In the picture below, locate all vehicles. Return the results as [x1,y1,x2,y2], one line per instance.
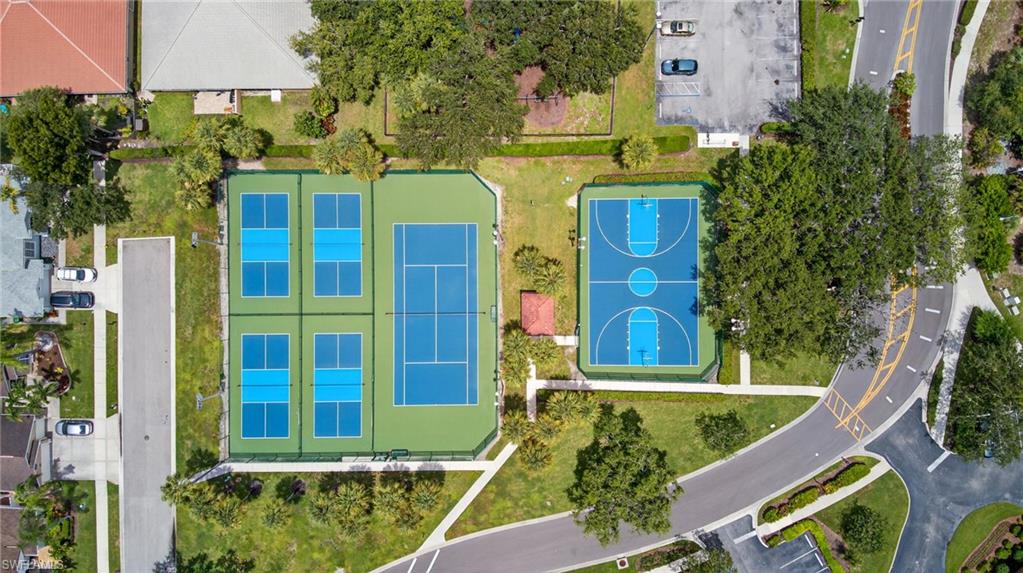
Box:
[53,420,92,438]
[660,17,697,35]
[661,55,699,74]
[57,266,97,284]
[50,290,93,309]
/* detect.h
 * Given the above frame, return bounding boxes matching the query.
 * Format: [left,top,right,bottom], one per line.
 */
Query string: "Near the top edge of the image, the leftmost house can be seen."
[0,0,134,96]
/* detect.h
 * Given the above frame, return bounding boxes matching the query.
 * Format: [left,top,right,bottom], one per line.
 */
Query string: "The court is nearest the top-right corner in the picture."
[579,186,716,376]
